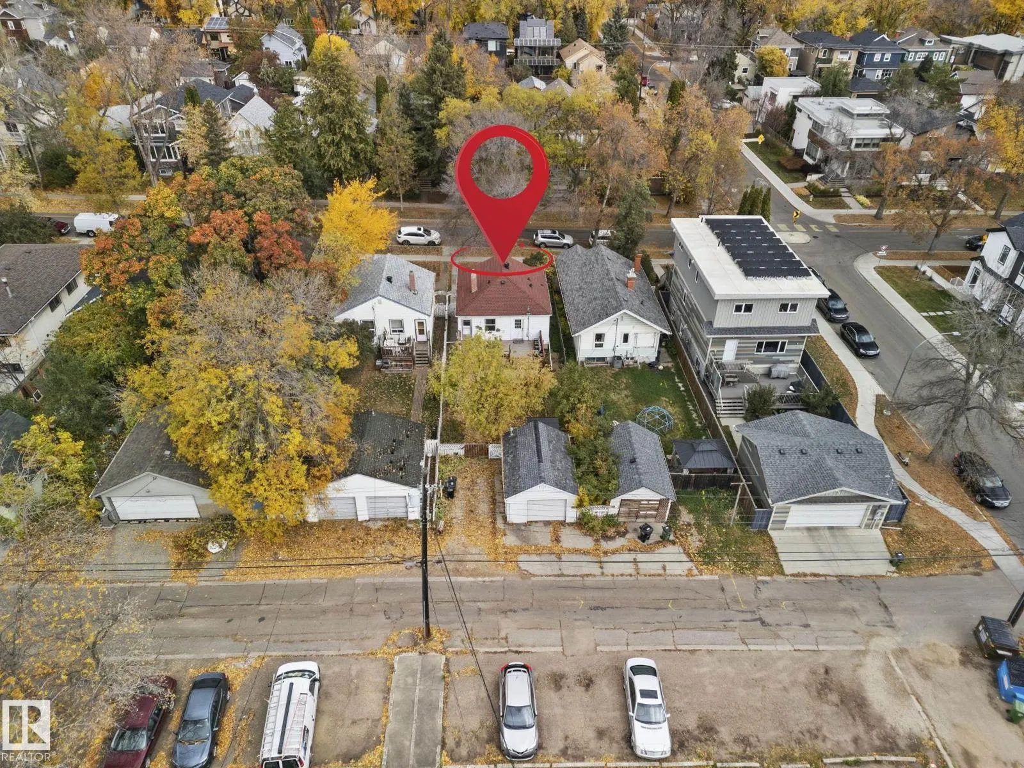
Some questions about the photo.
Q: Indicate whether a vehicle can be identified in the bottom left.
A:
Yes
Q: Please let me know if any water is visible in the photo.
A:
No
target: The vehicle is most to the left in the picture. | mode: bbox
[24,217,72,235]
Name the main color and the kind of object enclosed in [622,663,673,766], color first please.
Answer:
white car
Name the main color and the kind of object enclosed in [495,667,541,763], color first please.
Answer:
white car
